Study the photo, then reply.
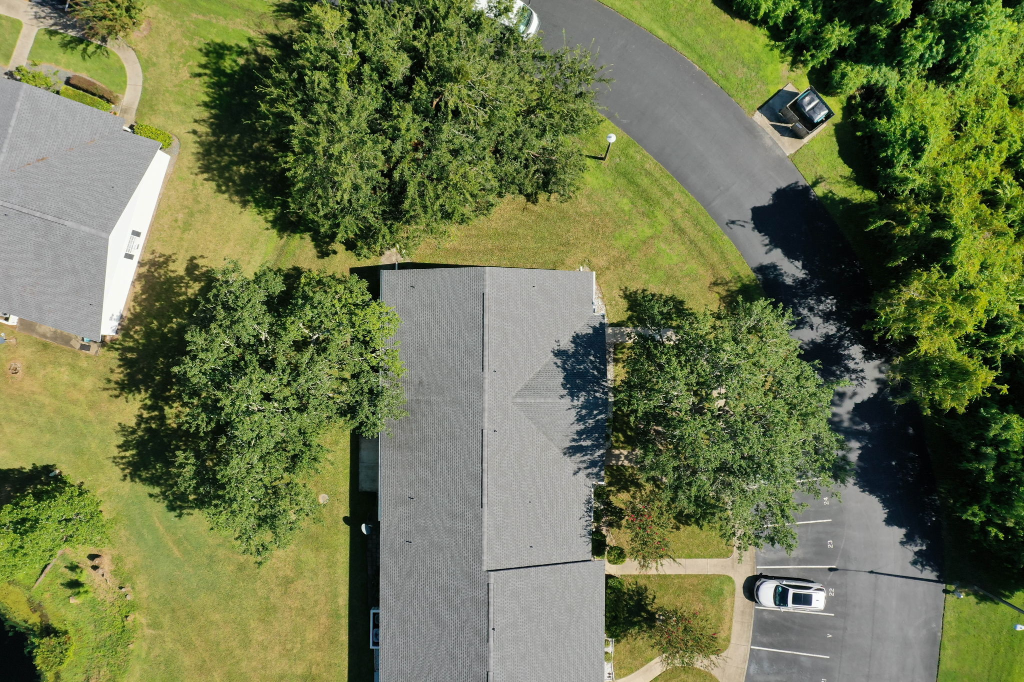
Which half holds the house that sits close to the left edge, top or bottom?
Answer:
top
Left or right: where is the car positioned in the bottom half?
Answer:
right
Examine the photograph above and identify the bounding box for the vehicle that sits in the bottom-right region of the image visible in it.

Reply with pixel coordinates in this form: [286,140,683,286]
[753,574,827,611]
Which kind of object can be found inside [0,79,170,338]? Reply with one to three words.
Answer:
house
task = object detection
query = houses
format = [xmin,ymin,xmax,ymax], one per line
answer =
[0,79,170,338]
[379,267,607,682]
